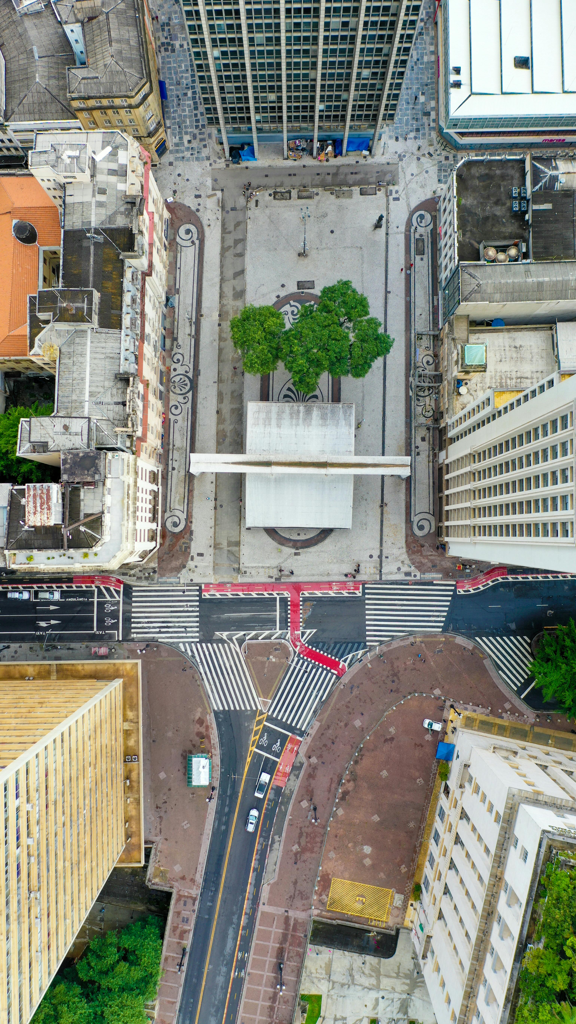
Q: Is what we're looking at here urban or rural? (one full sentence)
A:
The land in this view is best described as urban.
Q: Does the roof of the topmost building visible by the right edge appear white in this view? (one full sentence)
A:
Yes, the roof of the topmost building visible by the right edge is indeed white.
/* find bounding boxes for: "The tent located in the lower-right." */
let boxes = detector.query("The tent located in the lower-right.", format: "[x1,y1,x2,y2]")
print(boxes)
[433,738,458,762]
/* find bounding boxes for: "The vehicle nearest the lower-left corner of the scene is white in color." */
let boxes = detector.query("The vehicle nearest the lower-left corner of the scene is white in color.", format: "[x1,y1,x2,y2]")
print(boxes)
[246,807,259,833]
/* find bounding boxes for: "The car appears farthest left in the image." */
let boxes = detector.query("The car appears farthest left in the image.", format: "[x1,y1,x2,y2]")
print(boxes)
[6,589,31,601]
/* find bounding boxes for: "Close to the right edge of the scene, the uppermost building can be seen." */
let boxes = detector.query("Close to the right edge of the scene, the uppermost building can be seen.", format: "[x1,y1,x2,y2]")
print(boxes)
[432,0,576,152]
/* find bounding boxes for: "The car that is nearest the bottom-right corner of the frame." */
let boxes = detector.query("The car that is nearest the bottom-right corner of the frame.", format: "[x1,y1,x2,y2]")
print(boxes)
[421,718,445,735]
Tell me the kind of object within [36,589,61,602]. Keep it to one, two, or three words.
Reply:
vehicle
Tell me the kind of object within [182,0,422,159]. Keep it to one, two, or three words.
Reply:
building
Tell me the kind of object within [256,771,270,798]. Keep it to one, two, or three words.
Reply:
vehicle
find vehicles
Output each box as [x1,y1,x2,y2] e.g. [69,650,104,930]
[246,807,259,833]
[256,771,270,798]
[36,589,61,602]
[6,589,31,601]
[421,718,445,735]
